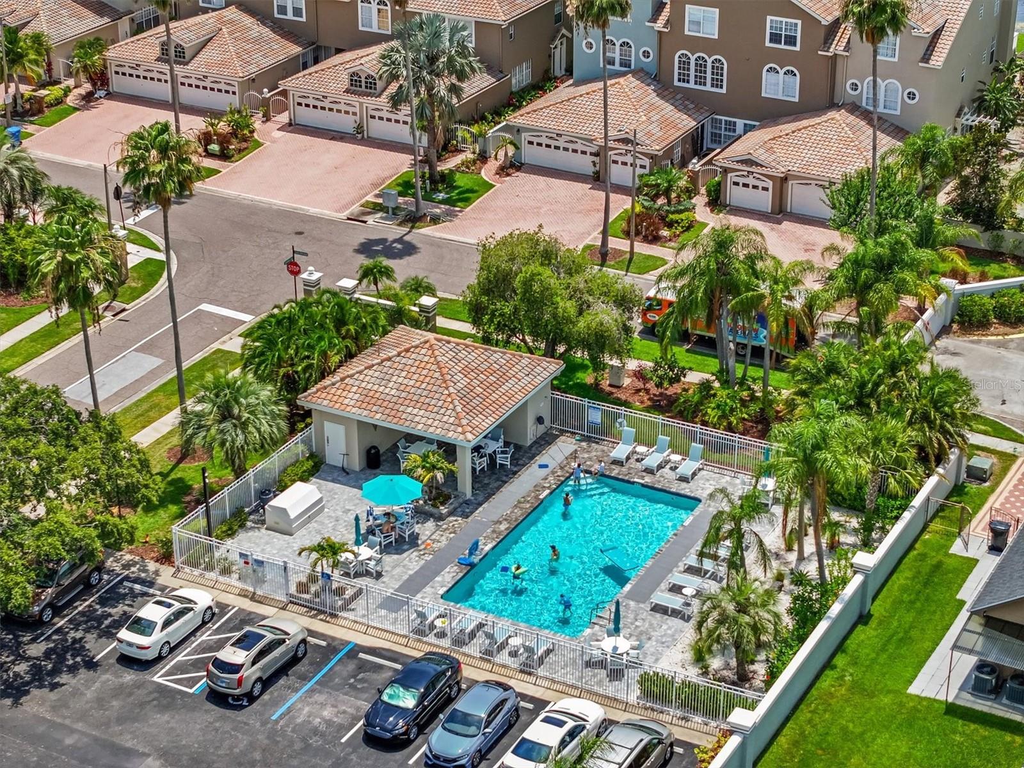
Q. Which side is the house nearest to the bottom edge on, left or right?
right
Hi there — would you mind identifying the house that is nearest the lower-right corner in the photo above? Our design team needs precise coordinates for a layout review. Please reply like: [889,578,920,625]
[965,517,1024,625]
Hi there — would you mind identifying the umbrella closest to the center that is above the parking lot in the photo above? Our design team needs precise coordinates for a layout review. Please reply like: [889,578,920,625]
[360,479,418,521]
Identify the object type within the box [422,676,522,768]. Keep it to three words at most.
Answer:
car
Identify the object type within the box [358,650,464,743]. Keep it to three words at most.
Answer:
car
